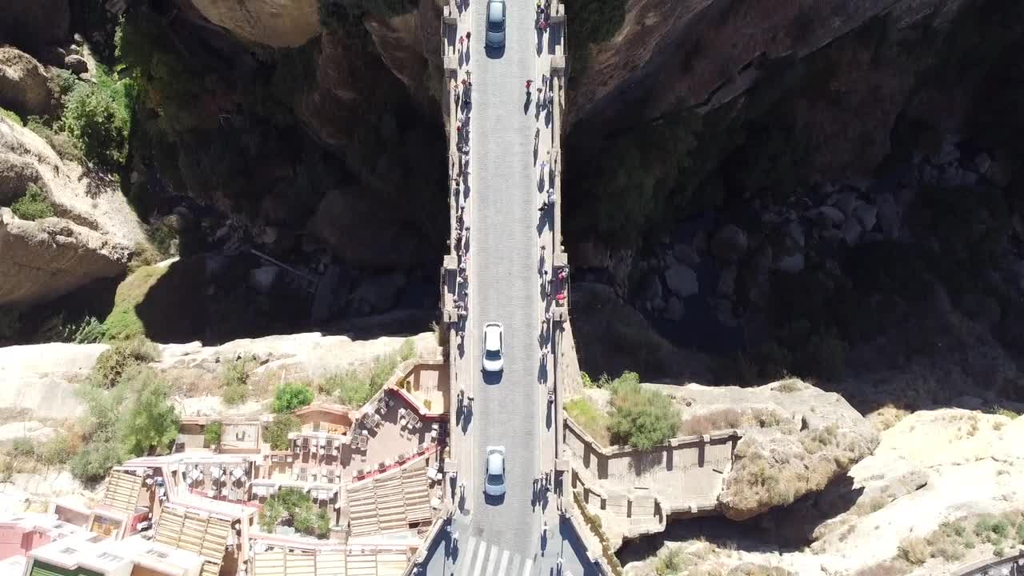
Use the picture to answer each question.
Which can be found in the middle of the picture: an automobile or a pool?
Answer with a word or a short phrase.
automobile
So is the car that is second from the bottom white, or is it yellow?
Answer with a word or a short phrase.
white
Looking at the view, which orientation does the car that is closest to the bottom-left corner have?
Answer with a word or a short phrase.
up and down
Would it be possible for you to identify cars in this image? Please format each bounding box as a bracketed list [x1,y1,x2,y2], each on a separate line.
[482,446,507,495]
[483,0,508,48]
[480,323,506,371]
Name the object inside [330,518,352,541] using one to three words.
shed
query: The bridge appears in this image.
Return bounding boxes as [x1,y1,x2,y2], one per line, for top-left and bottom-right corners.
[439,0,585,524]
